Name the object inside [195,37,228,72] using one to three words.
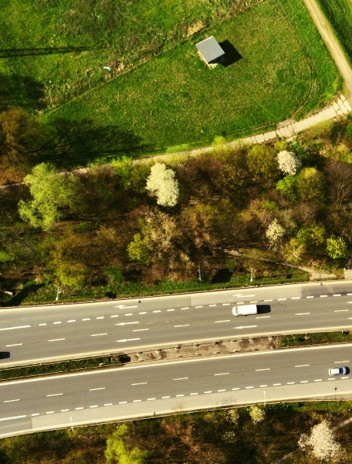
shed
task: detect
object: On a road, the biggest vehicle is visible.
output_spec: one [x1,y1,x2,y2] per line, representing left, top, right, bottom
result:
[233,303,259,316]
